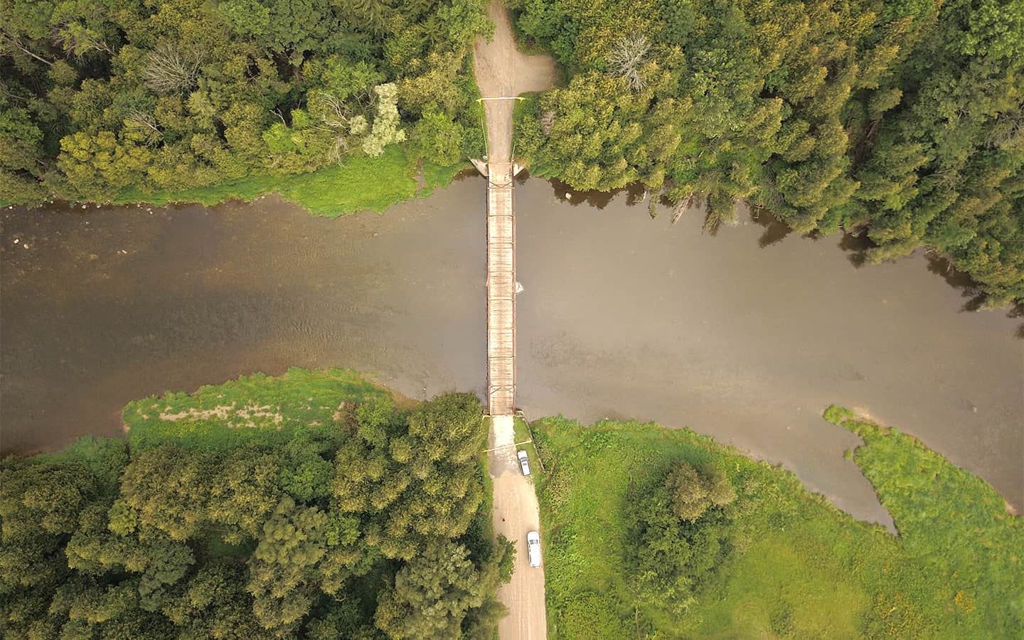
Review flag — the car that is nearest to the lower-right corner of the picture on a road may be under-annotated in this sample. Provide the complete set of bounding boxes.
[527,531,541,569]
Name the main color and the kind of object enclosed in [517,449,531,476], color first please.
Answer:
white car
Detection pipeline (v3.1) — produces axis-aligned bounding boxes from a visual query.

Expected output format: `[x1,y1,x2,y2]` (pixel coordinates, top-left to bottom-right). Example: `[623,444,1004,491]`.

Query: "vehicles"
[517,449,531,476]
[527,531,541,569]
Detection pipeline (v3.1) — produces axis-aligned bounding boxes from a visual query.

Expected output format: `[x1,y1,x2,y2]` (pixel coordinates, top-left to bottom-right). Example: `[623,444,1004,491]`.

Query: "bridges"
[473,158,525,418]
